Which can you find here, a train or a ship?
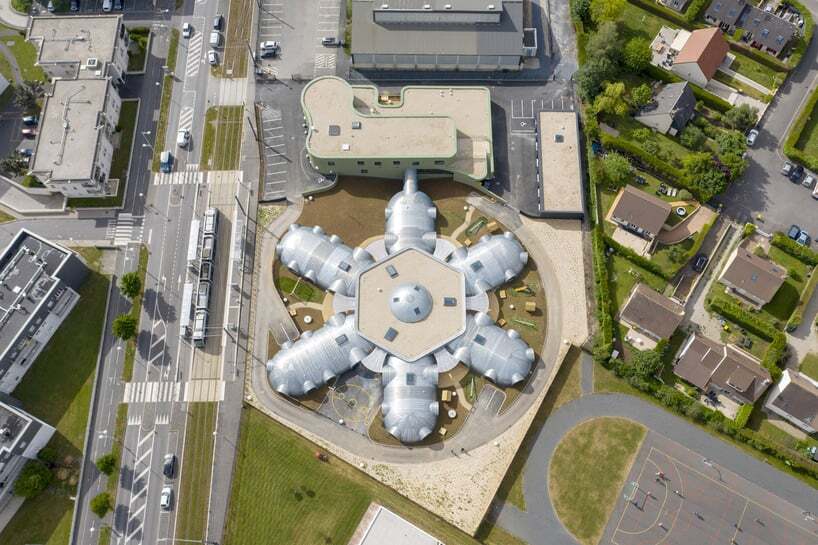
train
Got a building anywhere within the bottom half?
Yes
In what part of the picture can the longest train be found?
left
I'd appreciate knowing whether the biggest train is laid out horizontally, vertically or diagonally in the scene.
vertically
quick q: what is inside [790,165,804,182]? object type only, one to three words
car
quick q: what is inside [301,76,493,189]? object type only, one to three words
building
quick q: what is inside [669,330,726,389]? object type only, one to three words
house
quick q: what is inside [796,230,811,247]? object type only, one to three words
car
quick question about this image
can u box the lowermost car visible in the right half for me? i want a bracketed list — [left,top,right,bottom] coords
[693,253,709,273]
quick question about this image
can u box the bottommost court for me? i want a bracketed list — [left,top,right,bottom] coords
[602,430,818,545]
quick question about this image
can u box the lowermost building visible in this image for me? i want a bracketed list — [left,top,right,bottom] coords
[357,505,448,545]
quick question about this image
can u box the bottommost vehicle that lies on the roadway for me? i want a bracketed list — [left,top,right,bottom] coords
[159,486,173,510]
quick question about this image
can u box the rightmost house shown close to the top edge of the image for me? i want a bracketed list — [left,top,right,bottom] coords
[728,0,799,54]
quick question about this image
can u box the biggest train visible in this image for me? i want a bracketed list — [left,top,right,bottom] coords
[193,209,220,346]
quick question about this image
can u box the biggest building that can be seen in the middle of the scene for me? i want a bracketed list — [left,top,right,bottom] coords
[263,167,537,446]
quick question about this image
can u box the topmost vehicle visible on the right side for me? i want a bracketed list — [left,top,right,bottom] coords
[746,129,759,145]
